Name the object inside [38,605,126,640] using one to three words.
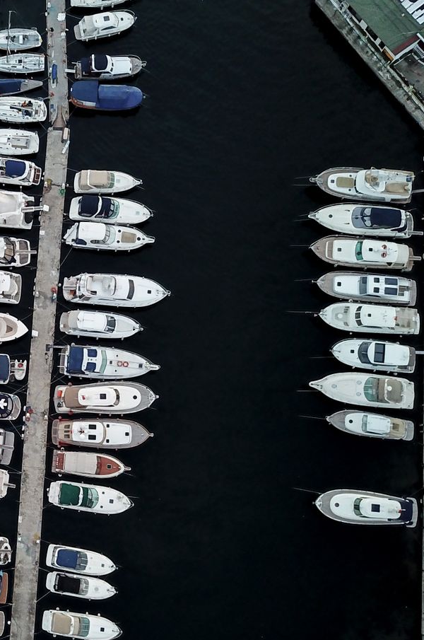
boat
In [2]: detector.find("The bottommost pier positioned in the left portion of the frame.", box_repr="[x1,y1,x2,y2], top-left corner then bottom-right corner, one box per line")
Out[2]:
[9,129,71,640]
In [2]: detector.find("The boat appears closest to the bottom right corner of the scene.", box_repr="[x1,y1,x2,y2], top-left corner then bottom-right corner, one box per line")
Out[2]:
[297,489,422,536]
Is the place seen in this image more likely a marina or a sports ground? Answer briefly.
marina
